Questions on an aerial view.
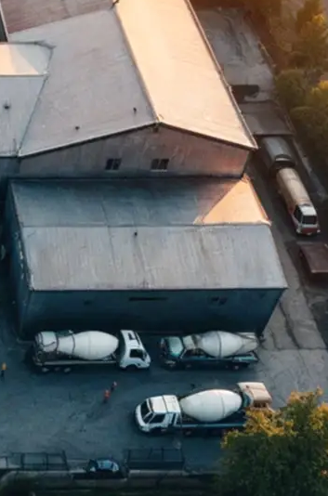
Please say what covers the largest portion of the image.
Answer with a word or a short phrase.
buildings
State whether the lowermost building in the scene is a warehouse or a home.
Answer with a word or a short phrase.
warehouse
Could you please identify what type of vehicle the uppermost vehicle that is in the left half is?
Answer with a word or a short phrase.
truck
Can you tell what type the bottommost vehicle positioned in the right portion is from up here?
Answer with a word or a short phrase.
truck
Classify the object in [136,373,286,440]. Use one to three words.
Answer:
truck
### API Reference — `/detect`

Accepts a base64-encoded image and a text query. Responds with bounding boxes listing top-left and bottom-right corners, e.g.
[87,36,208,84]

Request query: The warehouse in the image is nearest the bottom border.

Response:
[2,174,285,333]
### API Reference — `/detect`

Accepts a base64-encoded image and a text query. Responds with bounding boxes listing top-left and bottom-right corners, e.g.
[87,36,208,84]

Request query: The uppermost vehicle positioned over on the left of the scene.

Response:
[32,323,154,375]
